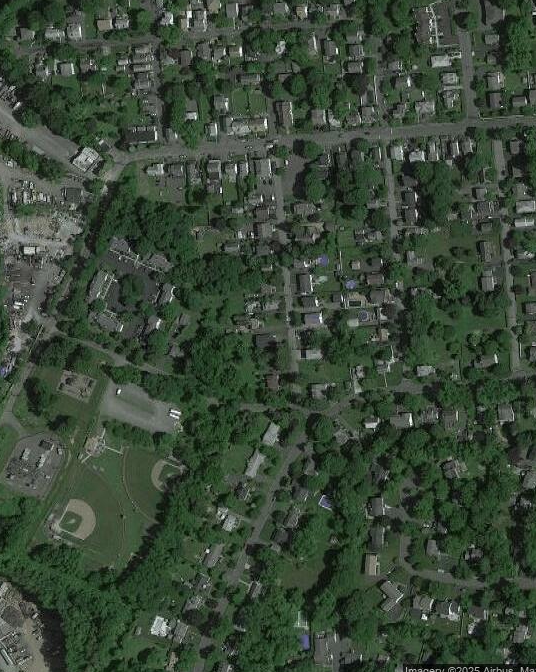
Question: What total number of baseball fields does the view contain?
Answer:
two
